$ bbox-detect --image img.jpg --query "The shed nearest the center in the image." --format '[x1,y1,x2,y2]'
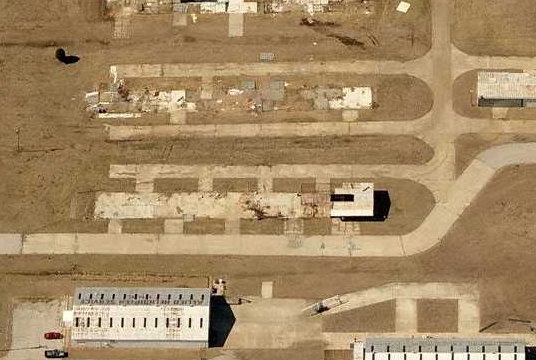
[331,183,374,224]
